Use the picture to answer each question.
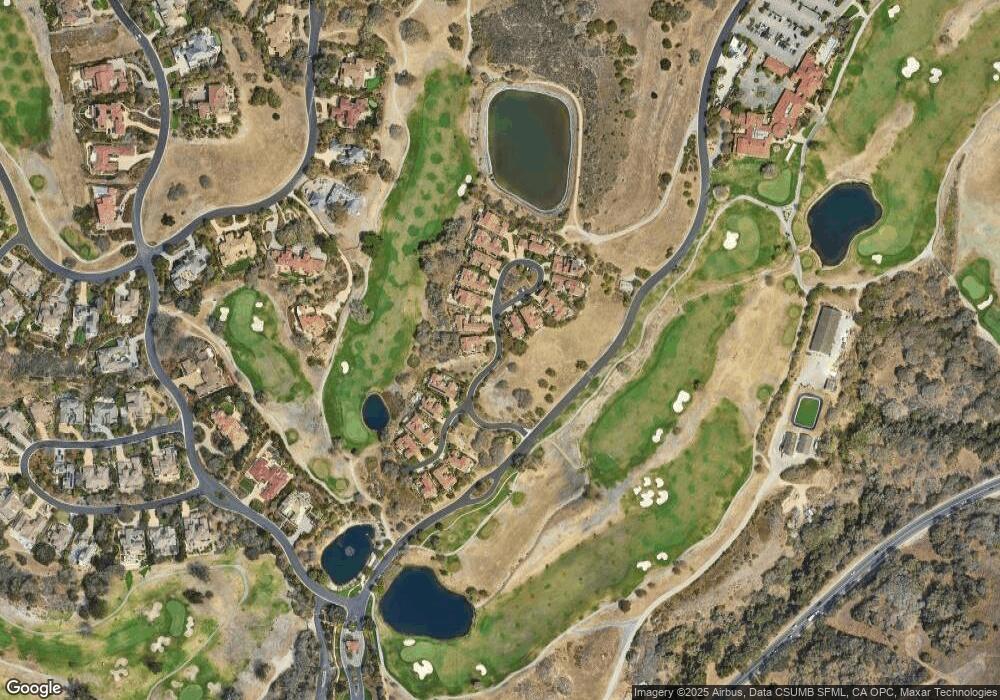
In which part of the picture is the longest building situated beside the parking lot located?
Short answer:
top right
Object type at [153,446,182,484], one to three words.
house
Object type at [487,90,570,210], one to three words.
pond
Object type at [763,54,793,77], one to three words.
building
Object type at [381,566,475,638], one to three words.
pond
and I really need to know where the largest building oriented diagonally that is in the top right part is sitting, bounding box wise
[733,48,825,159]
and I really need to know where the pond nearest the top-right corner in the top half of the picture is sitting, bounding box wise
[809,182,881,266]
